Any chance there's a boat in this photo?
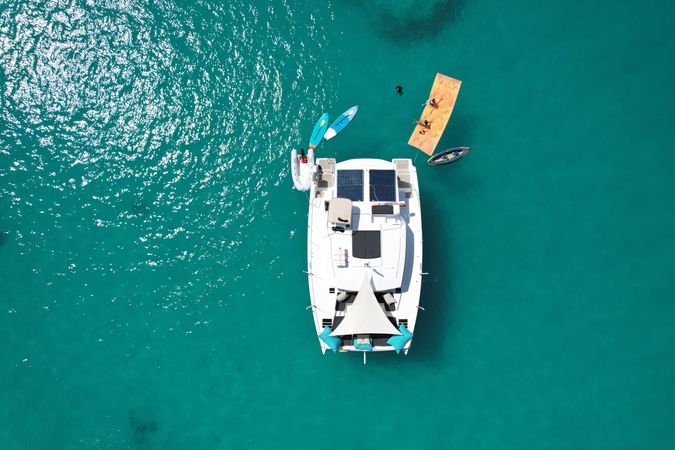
Yes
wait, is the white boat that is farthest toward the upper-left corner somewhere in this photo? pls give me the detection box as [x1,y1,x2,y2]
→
[291,148,314,190]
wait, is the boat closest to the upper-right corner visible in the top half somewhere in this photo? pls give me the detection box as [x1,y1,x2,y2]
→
[427,147,471,165]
